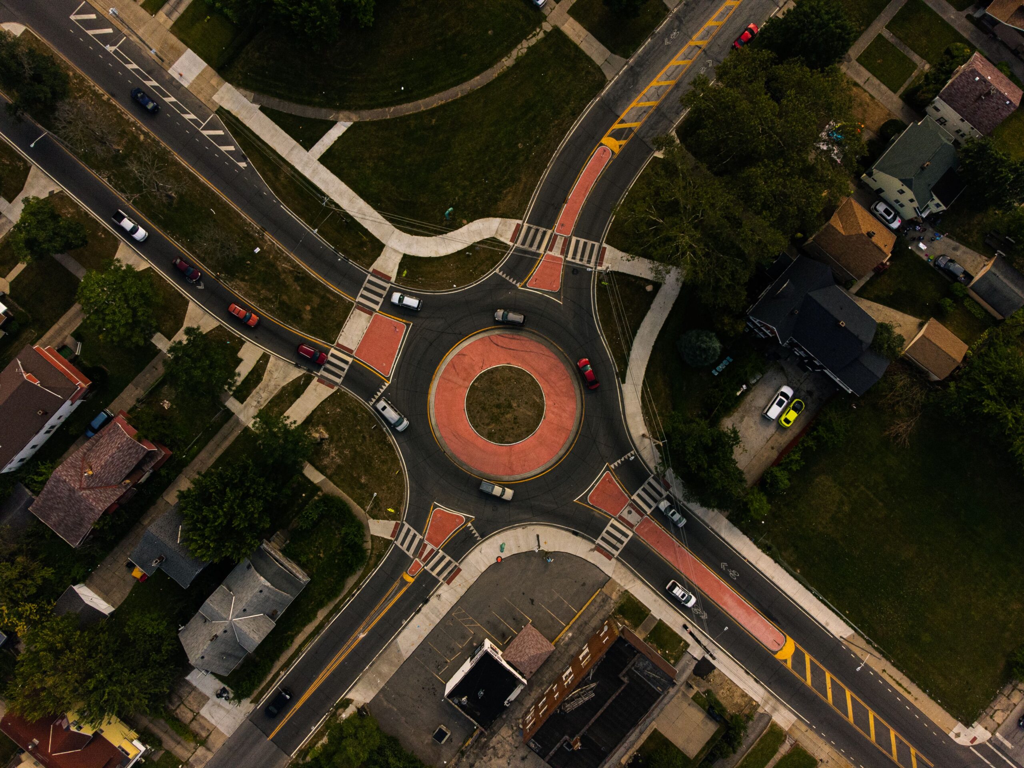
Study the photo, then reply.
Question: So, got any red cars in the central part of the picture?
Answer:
Yes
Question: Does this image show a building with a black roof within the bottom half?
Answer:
Yes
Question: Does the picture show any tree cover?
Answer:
Yes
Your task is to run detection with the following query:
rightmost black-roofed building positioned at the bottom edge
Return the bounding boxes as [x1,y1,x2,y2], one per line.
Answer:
[524,618,679,768]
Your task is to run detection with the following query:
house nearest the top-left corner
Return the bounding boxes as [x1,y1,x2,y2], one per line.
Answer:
[0,299,28,340]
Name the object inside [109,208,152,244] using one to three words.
truck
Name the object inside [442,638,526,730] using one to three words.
building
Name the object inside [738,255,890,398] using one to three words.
house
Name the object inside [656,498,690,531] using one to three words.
car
